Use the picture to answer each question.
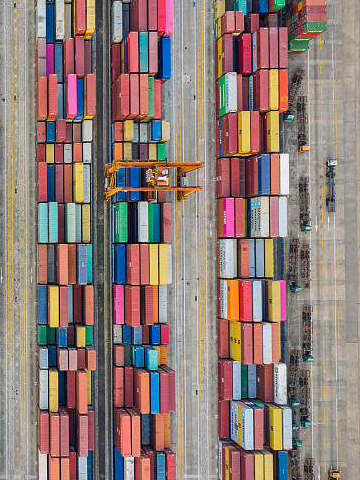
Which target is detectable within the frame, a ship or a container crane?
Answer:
container crane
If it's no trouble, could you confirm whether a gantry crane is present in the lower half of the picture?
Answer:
No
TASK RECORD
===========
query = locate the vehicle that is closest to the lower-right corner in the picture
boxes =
[327,467,340,480]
